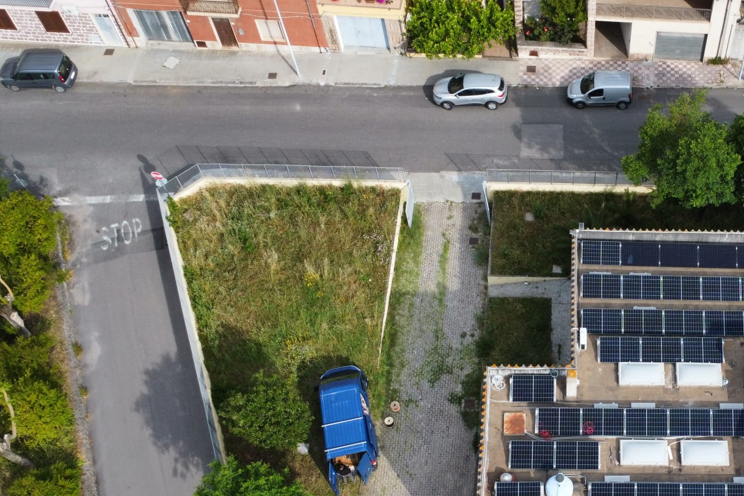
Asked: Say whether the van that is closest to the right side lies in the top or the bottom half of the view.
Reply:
top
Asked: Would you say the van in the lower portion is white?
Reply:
No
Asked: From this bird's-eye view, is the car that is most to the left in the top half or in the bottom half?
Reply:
top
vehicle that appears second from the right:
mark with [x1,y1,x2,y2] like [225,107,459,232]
[430,70,509,110]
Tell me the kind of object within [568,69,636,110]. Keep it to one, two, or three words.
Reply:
van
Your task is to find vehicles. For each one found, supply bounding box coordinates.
[568,69,636,110]
[318,370,382,490]
[430,70,509,110]
[0,52,76,92]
